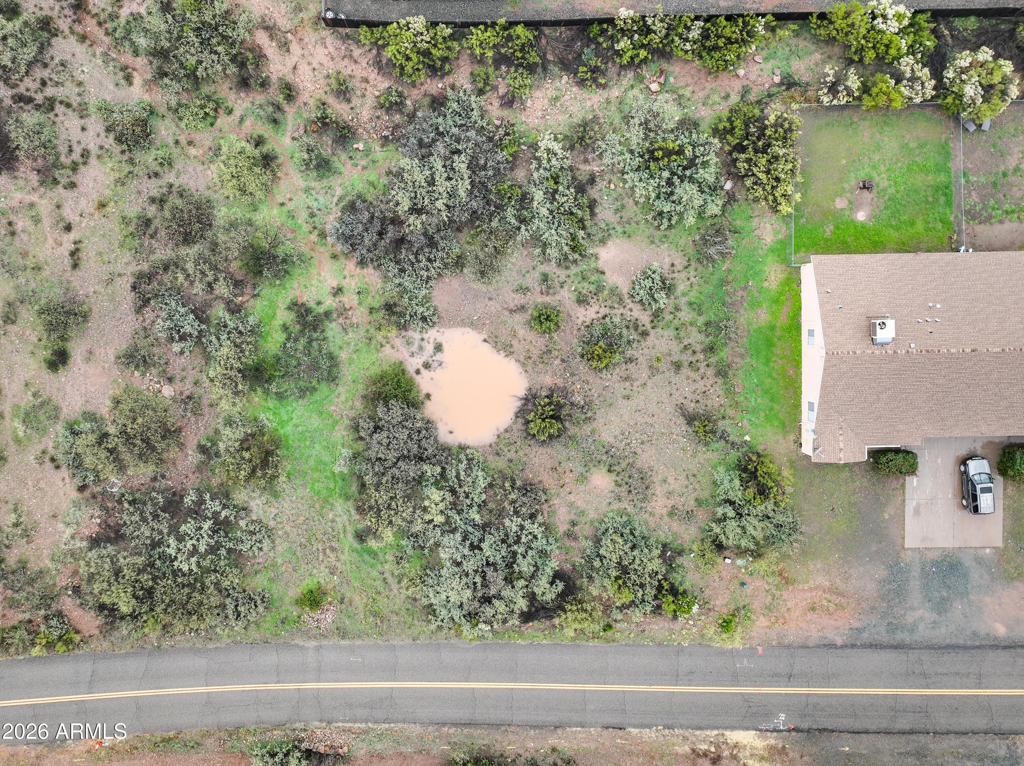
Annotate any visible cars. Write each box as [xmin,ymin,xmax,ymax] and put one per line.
[957,455,993,517]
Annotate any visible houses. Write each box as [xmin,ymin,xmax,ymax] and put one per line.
[798,252,1024,463]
